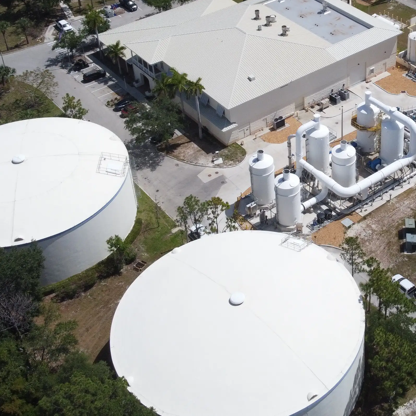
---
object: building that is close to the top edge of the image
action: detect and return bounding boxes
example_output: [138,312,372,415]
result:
[99,0,406,147]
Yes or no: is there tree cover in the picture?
Yes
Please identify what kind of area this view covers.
industrial area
